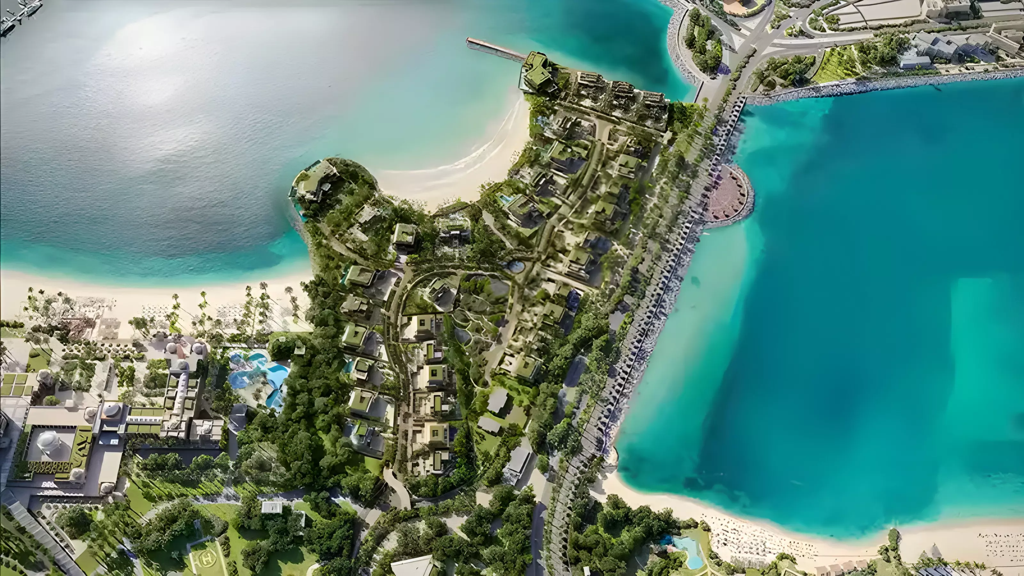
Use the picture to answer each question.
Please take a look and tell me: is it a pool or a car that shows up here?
pool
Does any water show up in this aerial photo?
Yes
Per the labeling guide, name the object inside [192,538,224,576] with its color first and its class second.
yellow helipad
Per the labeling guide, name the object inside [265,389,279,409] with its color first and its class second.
blue swimming pool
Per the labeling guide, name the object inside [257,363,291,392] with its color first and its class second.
blue swimming pool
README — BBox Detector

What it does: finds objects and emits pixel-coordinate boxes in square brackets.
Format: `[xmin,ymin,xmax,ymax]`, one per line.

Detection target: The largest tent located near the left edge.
[37,432,60,452]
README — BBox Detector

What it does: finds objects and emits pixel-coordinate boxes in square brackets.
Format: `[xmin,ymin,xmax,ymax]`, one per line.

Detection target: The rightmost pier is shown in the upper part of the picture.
[468,37,525,64]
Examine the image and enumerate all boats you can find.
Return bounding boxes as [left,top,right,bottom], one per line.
[0,23,16,39]
[25,2,43,18]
